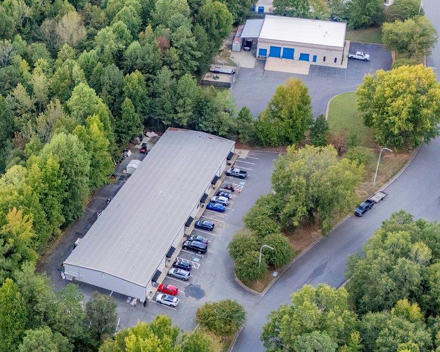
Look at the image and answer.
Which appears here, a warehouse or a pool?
warehouse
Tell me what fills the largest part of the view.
trees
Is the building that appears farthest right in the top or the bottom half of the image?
top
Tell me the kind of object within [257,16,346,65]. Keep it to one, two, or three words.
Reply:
building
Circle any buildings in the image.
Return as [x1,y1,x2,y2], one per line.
[63,126,239,304]
[257,16,346,65]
